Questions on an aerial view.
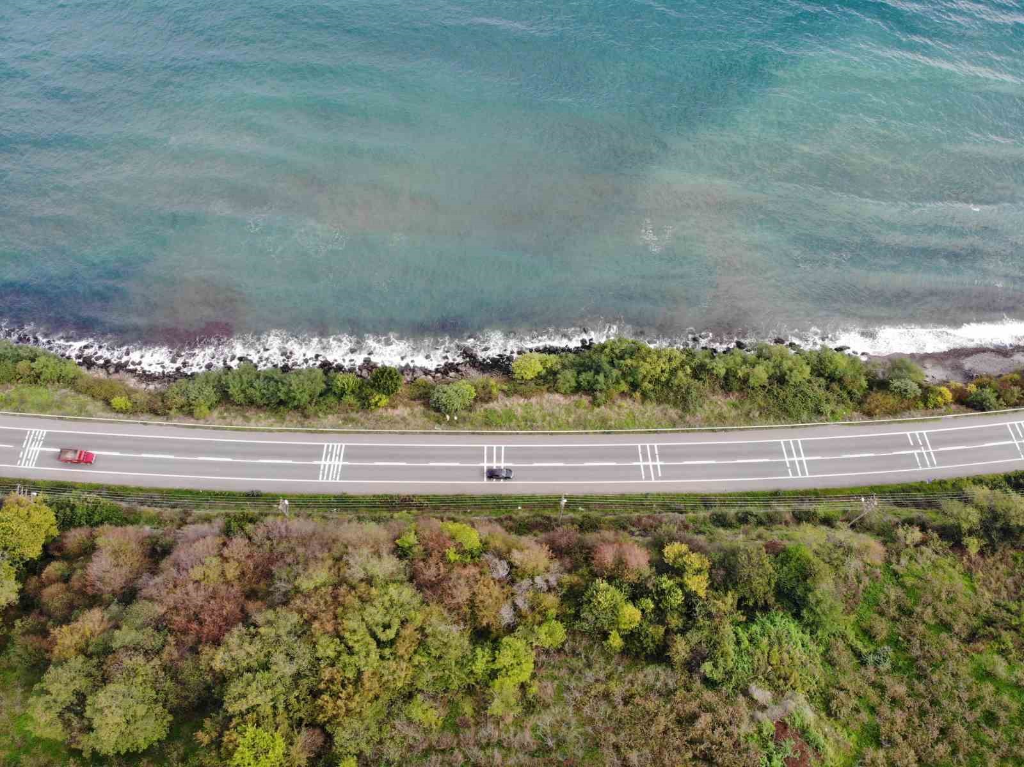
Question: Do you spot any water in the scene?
Yes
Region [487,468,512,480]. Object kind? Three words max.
vehicle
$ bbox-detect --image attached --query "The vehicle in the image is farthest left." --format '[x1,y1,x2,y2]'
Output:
[54,448,97,465]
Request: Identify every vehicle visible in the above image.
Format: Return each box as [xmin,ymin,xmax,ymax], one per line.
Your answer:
[487,468,512,480]
[54,448,97,465]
